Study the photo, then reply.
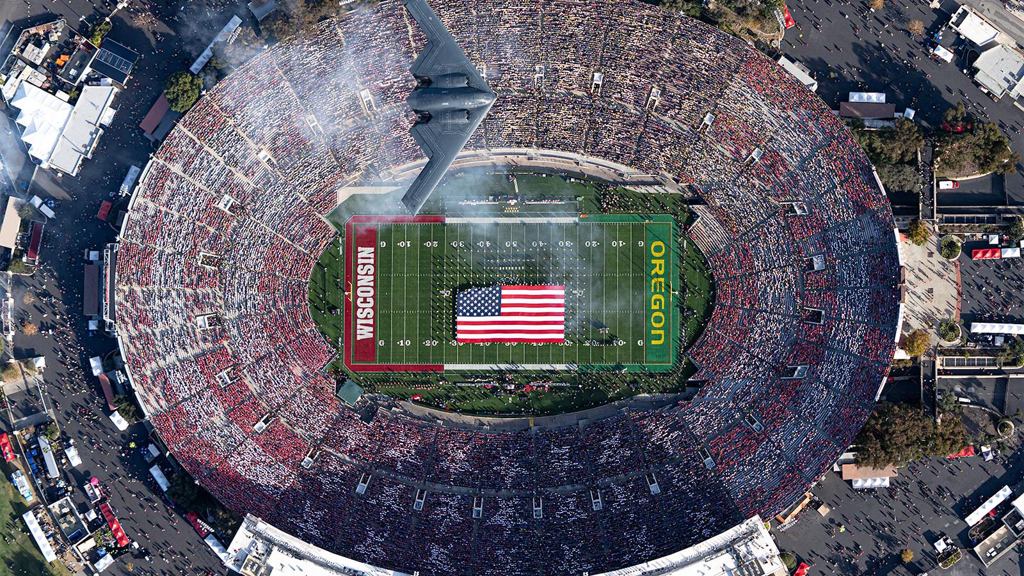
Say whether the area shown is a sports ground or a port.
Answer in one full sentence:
The area seen from above is a sports ground.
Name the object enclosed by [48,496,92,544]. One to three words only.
building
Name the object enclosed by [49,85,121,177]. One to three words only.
building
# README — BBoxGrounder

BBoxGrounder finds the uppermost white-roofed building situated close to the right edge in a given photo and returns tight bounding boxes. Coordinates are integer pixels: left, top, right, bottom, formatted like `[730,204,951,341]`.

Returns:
[945,4,1001,47]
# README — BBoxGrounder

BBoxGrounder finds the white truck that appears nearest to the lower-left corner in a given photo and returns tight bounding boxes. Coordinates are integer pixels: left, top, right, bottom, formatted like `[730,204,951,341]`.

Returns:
[9,472,31,502]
